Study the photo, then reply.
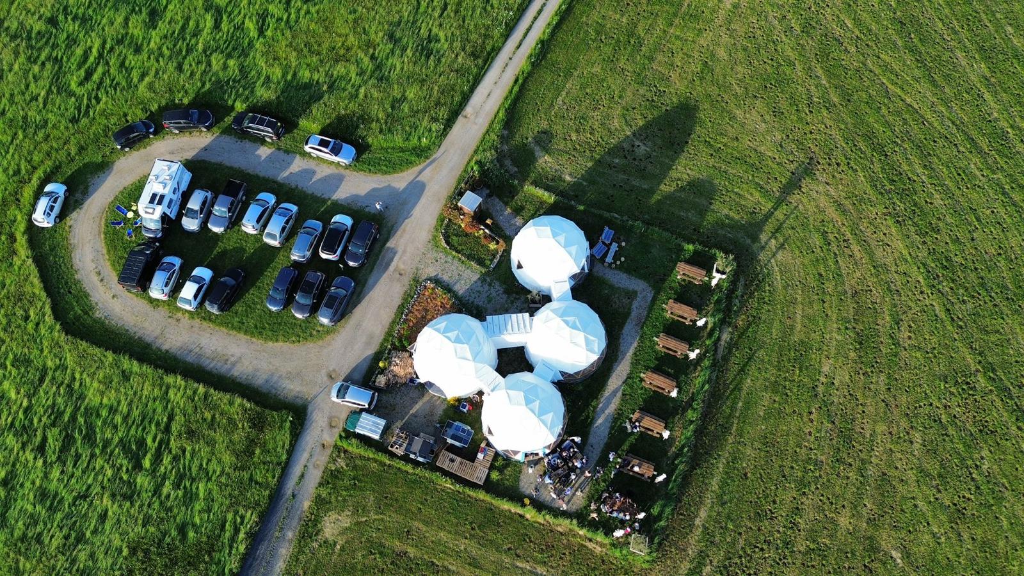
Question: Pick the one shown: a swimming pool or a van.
van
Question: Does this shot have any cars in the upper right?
No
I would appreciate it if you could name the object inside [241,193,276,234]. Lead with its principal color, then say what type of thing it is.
blue car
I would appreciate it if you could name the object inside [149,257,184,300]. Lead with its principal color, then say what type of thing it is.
blue car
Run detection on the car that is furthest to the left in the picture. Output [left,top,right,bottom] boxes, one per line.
[29,185,68,228]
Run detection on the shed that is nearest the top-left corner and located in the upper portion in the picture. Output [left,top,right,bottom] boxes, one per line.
[458,190,483,223]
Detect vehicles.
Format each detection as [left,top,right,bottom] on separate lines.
[139,159,194,241]
[162,107,216,134]
[149,257,184,300]
[302,130,358,166]
[317,277,354,325]
[263,204,298,248]
[29,185,68,228]
[289,220,323,263]
[332,380,378,411]
[207,178,249,233]
[114,241,162,292]
[266,266,301,311]
[182,189,215,232]
[292,269,327,318]
[319,215,353,260]
[345,220,378,267]
[232,111,286,142]
[203,268,246,315]
[177,267,214,312]
[241,193,276,234]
